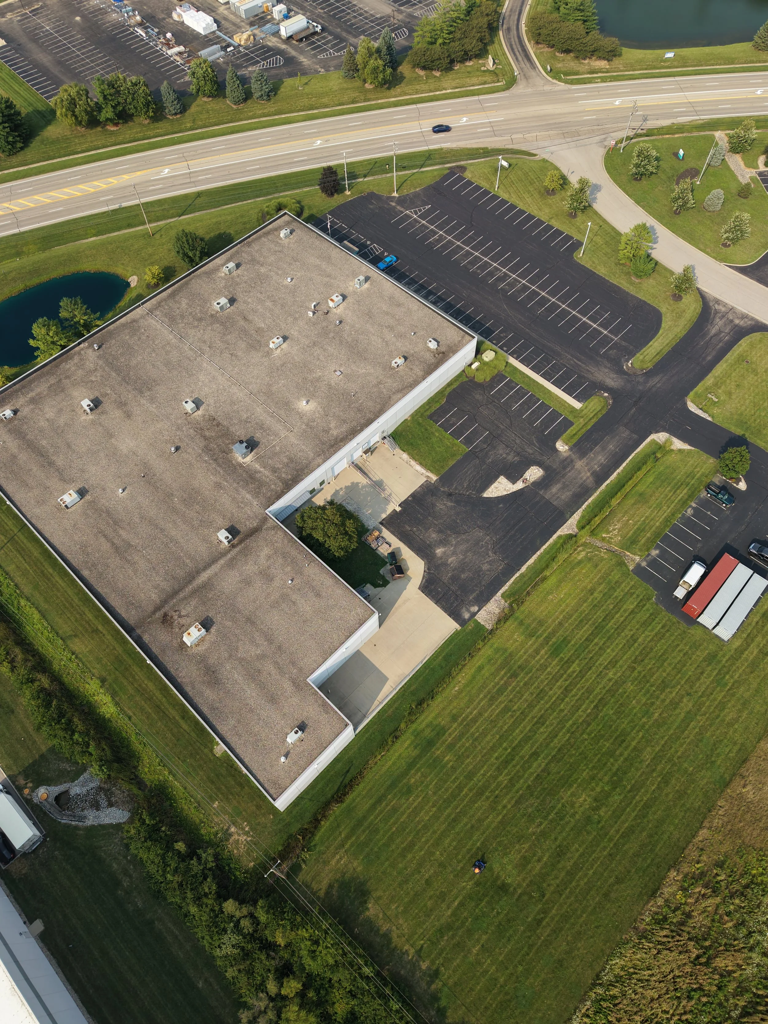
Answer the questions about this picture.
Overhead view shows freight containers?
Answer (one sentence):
Yes, there is a freight container in the image.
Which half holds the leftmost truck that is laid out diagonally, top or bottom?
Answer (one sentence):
The leftmost truck that is laid out diagonally sits in the bottom half of the picture.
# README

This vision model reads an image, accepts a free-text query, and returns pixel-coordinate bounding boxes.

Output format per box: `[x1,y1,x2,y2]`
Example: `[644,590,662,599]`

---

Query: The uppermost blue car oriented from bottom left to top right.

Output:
[378,256,397,270]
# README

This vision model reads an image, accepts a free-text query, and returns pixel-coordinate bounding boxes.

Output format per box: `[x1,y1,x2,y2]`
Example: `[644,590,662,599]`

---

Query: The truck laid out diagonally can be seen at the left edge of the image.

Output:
[0,785,48,857]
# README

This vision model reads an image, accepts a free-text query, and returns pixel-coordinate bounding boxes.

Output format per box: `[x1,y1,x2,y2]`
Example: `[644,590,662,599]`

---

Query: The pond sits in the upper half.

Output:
[0,275,126,365]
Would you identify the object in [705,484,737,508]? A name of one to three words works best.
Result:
truck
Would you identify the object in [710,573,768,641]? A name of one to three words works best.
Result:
shipping container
